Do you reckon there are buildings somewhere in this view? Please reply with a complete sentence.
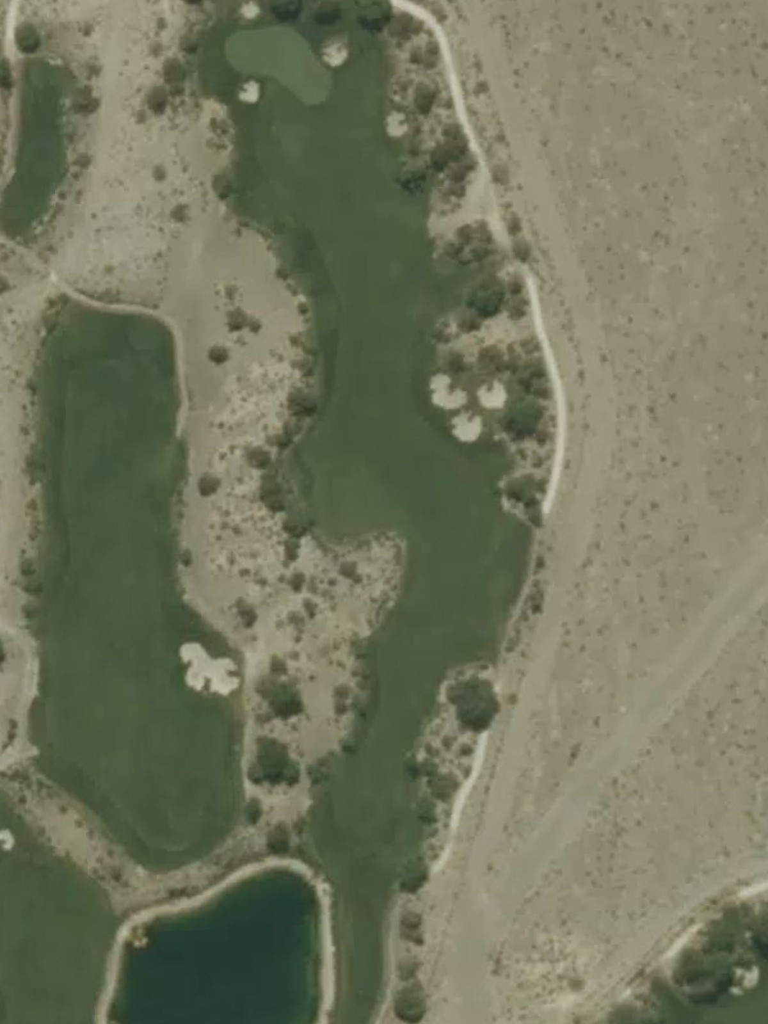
No, I can't see a single building in this photo.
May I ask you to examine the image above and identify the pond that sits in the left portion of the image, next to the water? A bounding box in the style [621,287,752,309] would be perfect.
[110,868,319,1024]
